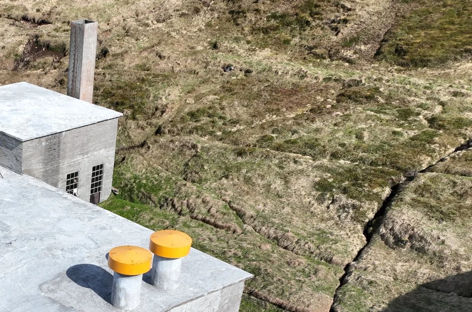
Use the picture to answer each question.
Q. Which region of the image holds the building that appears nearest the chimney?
left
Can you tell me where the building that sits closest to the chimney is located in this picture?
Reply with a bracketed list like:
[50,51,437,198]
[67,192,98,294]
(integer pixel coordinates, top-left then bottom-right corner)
[0,83,123,204]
